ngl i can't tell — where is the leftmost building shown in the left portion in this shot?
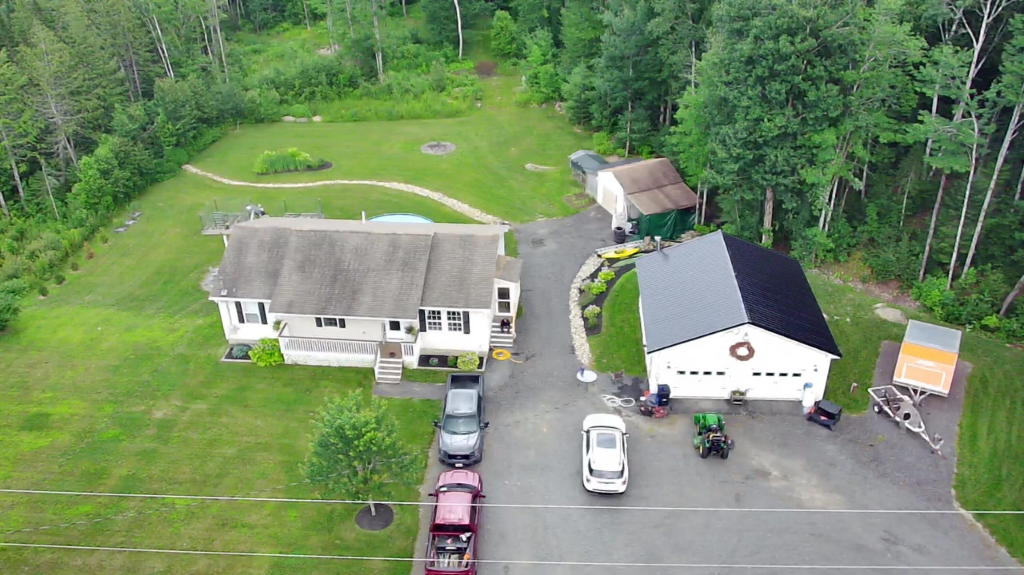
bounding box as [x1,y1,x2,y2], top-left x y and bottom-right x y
[209,213,522,369]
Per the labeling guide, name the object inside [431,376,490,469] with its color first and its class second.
gray truck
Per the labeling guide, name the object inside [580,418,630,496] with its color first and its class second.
white car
